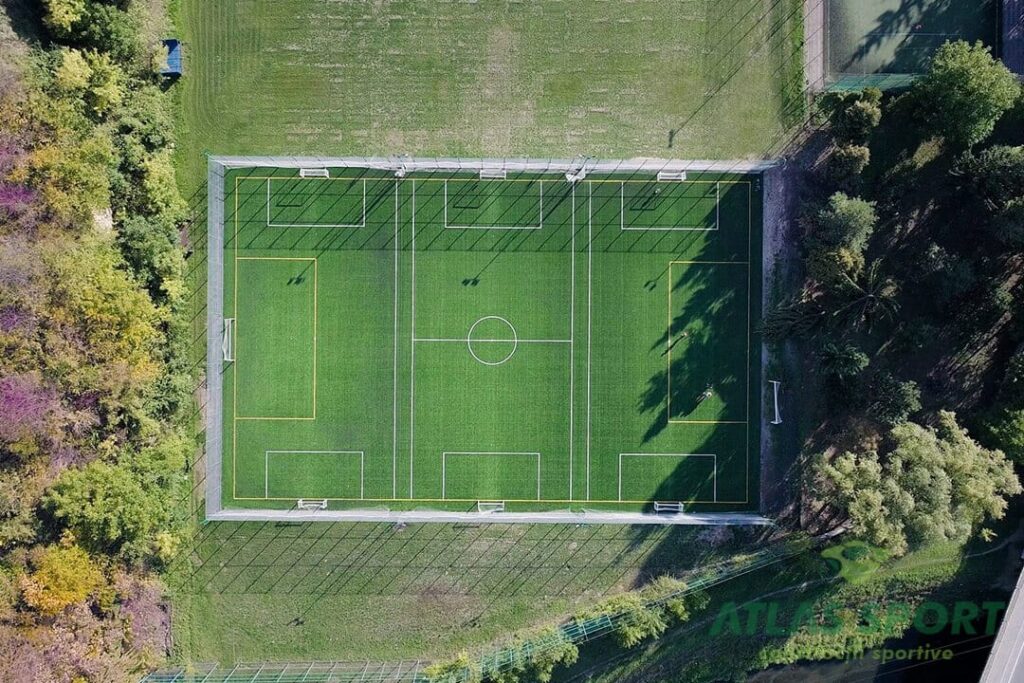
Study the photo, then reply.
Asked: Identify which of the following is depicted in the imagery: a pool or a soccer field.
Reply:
soccer field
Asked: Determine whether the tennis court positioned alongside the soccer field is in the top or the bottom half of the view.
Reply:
top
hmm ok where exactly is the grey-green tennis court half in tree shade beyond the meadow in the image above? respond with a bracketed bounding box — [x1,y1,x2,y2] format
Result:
[823,0,1001,90]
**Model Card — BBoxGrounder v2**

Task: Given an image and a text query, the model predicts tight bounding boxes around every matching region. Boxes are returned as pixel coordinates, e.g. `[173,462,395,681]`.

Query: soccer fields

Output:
[205,155,773,525]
